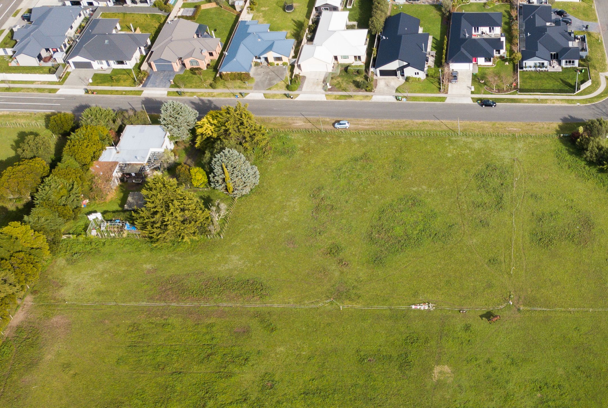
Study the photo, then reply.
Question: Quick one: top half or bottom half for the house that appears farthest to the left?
top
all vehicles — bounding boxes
[334,122,351,130]
[18,13,34,21]
[450,70,459,81]
[553,8,568,17]
[555,18,572,25]
[481,101,497,109]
